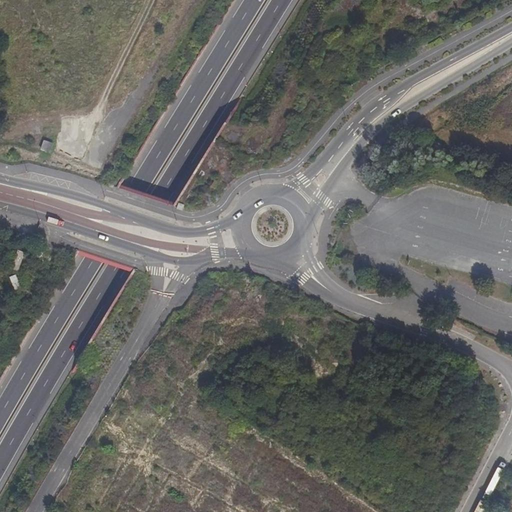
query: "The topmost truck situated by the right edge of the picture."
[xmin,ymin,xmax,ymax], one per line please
[484,460,507,496]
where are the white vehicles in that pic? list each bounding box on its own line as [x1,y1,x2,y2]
[472,496,487,512]
[484,460,507,496]
[233,210,244,220]
[98,235,108,242]
[254,199,264,208]
[46,216,64,226]
[392,108,402,116]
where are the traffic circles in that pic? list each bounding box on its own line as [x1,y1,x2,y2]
[198,154,342,290]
